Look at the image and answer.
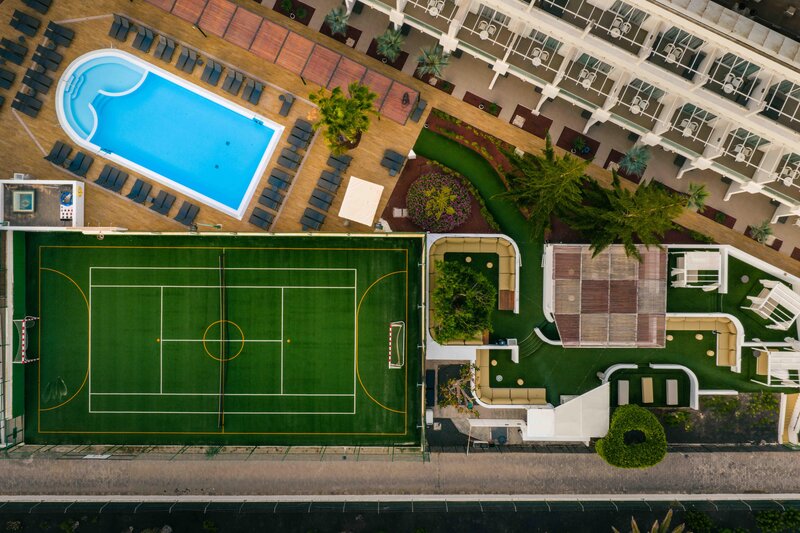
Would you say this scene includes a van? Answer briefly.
No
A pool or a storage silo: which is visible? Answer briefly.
pool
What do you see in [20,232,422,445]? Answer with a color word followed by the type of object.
green sports court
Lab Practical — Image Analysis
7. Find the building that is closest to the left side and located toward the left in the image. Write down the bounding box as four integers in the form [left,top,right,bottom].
[0,179,85,232]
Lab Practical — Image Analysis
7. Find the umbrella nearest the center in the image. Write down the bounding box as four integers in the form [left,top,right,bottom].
[338,176,384,227]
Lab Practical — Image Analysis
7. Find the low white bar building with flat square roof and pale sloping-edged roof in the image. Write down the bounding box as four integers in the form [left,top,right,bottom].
[517,381,609,448]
